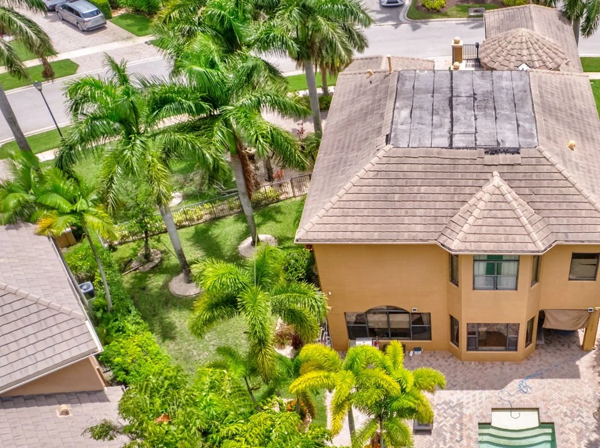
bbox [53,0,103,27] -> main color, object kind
gray car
